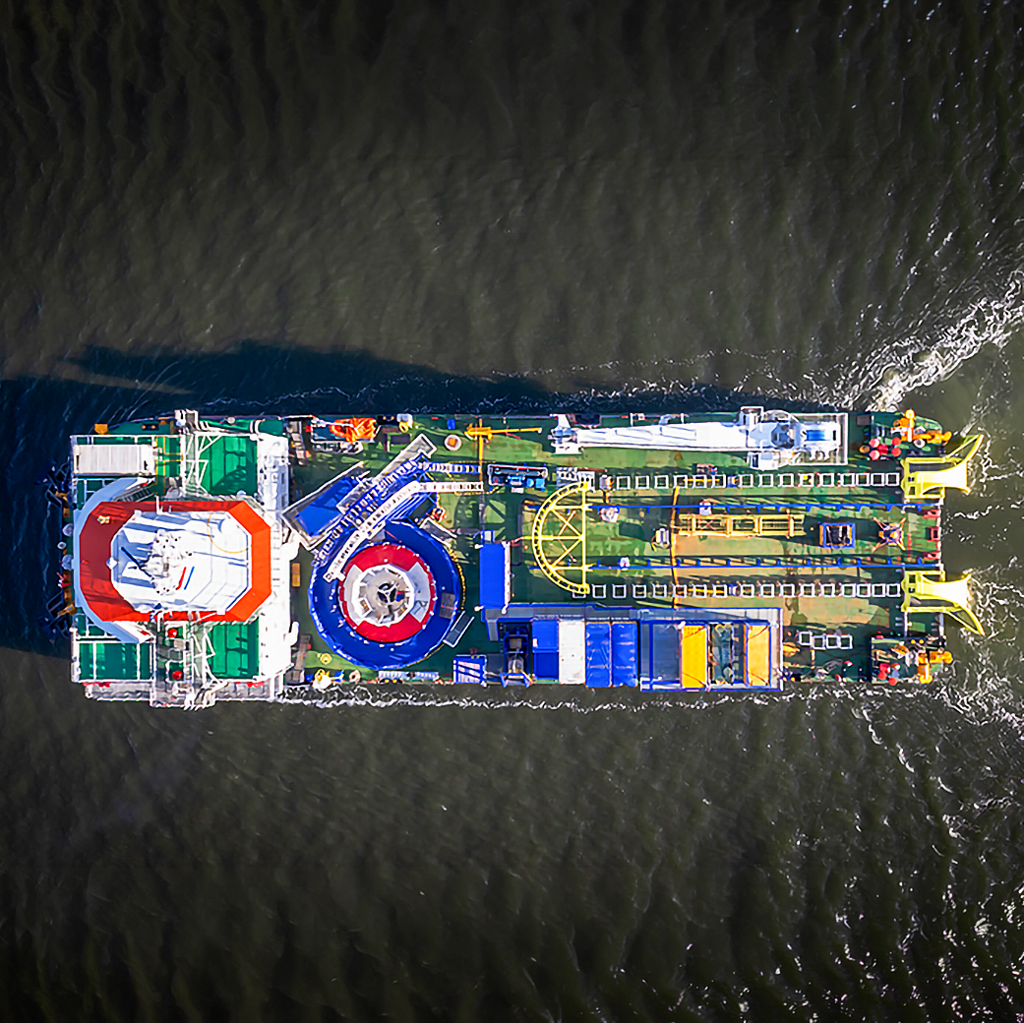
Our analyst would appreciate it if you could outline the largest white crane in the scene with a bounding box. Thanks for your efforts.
[577,405,840,471]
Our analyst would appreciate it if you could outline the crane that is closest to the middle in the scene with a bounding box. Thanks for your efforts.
[465,418,542,531]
